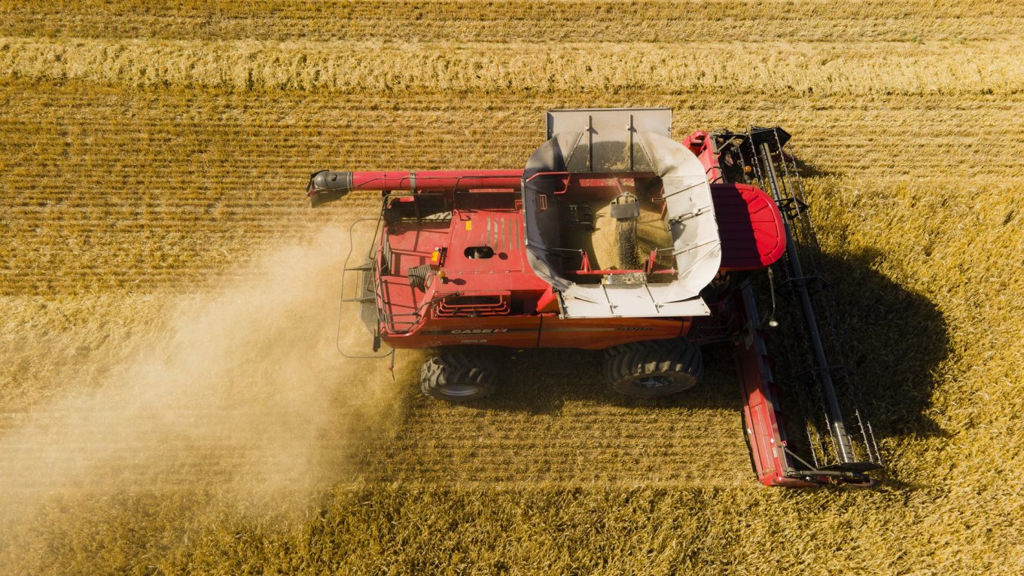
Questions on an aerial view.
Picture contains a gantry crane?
No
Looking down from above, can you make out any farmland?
Yes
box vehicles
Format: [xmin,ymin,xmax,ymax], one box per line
[307,108,891,487]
